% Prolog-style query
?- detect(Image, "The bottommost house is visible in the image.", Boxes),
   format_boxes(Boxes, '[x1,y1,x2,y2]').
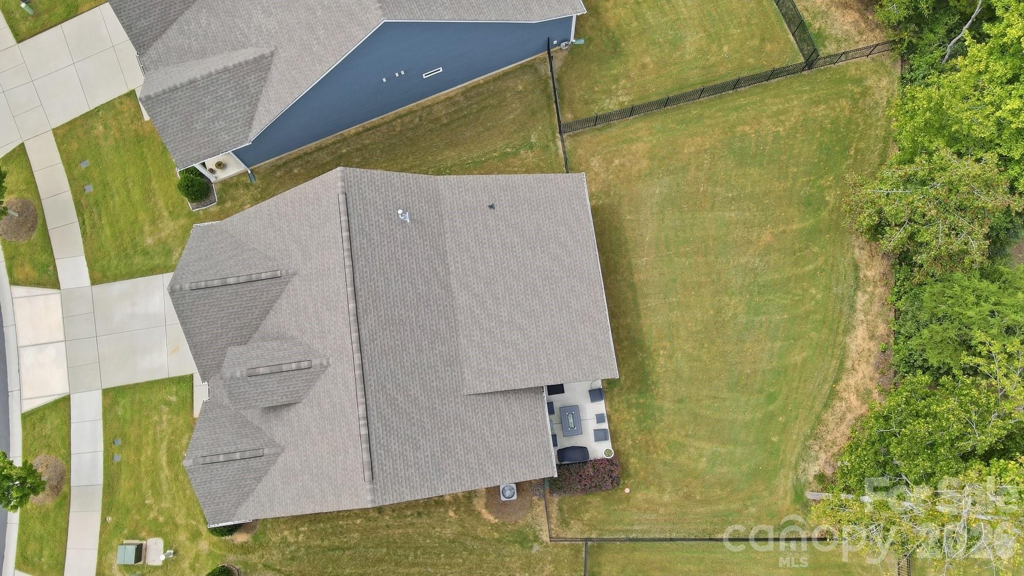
[166,164,621,530]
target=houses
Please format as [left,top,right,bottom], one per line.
[166,164,621,530]
[107,0,588,186]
